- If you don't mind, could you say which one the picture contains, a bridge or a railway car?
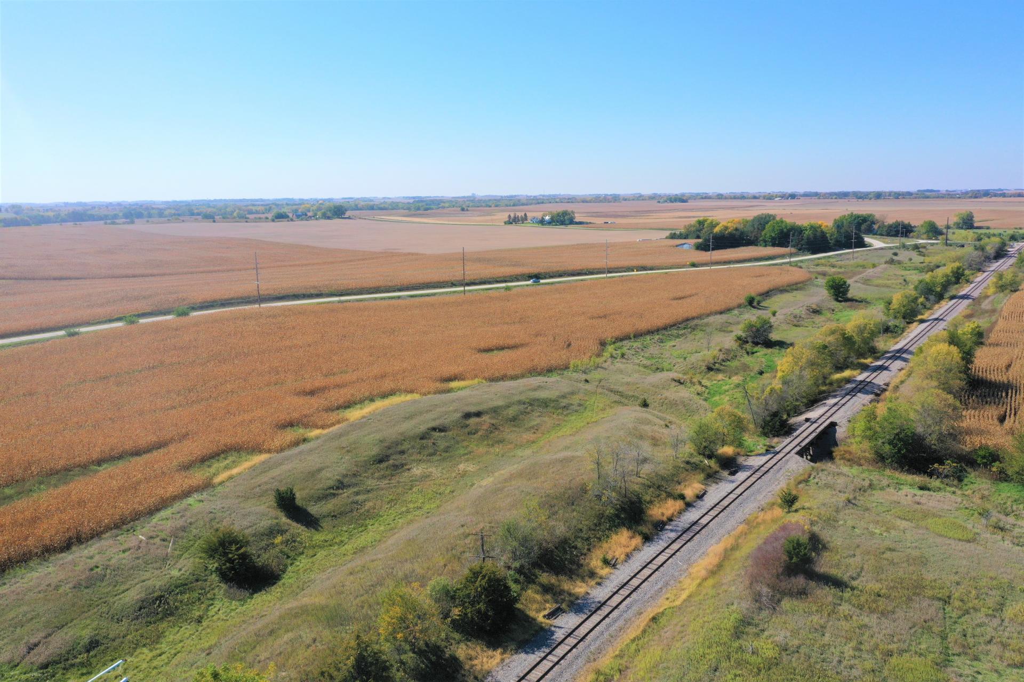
bridge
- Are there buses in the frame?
No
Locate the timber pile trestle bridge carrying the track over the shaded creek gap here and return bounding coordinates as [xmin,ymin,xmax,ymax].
[763,415,852,467]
